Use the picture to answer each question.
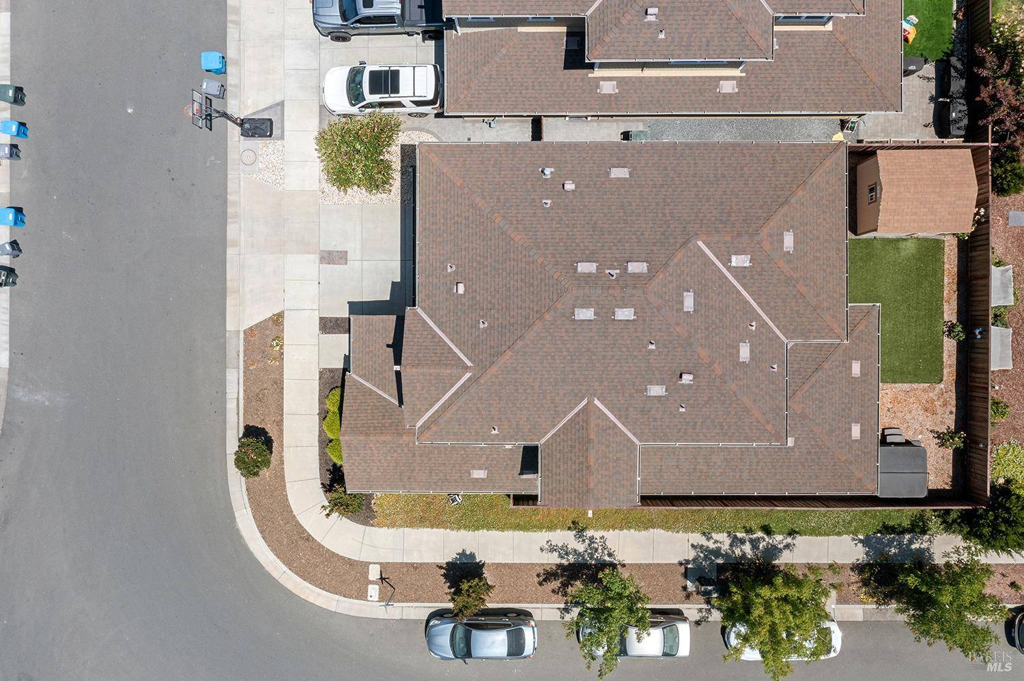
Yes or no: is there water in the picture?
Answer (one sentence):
No, there's no water in this view.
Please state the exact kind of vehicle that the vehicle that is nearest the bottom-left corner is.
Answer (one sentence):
It looks like the vehicle that is nearest the bottom-left corner is a car.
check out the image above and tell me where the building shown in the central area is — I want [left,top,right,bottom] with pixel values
[343,140,880,519]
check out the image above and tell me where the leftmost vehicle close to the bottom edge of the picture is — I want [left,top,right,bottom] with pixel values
[426,614,538,668]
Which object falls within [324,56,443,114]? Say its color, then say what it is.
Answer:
white car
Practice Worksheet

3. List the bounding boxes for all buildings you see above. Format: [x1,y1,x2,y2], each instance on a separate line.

[862,149,978,235]
[444,0,903,121]
[343,140,880,519]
